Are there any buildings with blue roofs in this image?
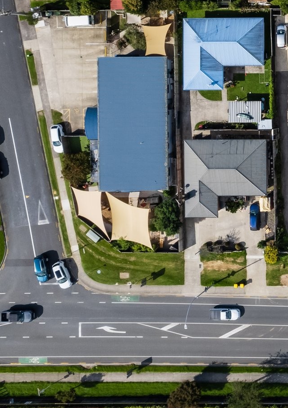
Yes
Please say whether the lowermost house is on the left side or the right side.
right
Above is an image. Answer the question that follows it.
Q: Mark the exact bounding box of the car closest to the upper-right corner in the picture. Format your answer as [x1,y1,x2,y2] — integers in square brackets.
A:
[274,24,288,48]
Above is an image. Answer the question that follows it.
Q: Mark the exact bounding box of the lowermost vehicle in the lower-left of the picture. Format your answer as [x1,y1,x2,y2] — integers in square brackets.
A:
[1,309,35,324]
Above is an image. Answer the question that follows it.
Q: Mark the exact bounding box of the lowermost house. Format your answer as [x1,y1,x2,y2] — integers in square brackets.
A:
[184,139,269,218]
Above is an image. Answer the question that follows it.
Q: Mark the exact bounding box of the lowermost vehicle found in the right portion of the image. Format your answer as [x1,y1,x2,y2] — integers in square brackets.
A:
[210,307,242,321]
